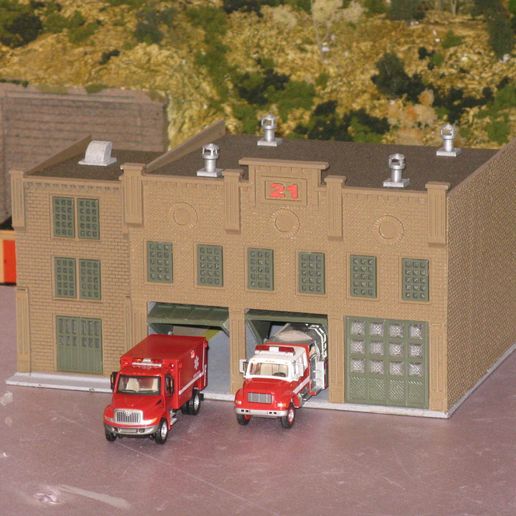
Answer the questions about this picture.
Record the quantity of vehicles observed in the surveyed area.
2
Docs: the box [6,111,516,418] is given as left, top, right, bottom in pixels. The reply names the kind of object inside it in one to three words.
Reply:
building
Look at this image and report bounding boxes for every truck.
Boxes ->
[104,339,206,447]
[237,325,329,430]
